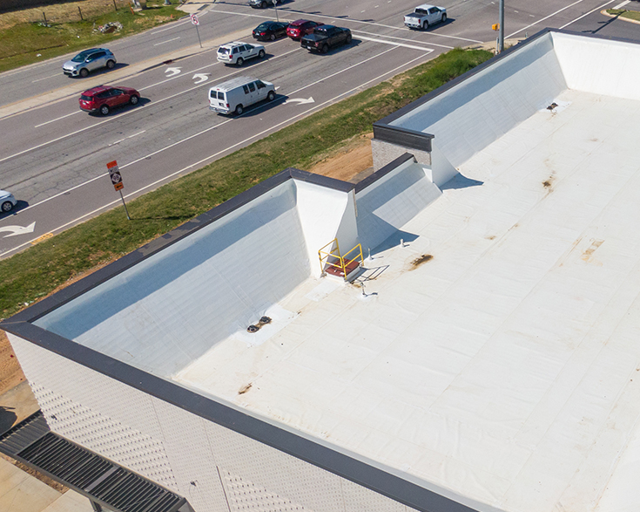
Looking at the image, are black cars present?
Yes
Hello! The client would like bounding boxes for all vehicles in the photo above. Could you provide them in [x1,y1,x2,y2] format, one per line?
[0,189,18,213]
[216,40,266,66]
[403,4,447,30]
[58,46,116,78]
[280,19,321,42]
[246,0,283,9]
[208,75,277,114]
[251,20,283,41]
[76,85,141,115]
[300,25,352,53]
